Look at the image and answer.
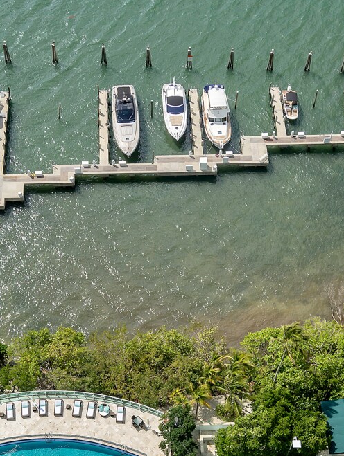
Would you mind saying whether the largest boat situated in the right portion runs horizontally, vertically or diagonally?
vertically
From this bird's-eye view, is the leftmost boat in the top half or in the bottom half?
top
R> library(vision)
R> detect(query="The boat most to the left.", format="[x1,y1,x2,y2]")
[111,88,138,158]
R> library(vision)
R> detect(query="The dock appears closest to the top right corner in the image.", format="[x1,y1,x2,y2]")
[268,77,288,135]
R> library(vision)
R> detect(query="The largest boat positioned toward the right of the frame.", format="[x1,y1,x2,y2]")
[201,73,233,151]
